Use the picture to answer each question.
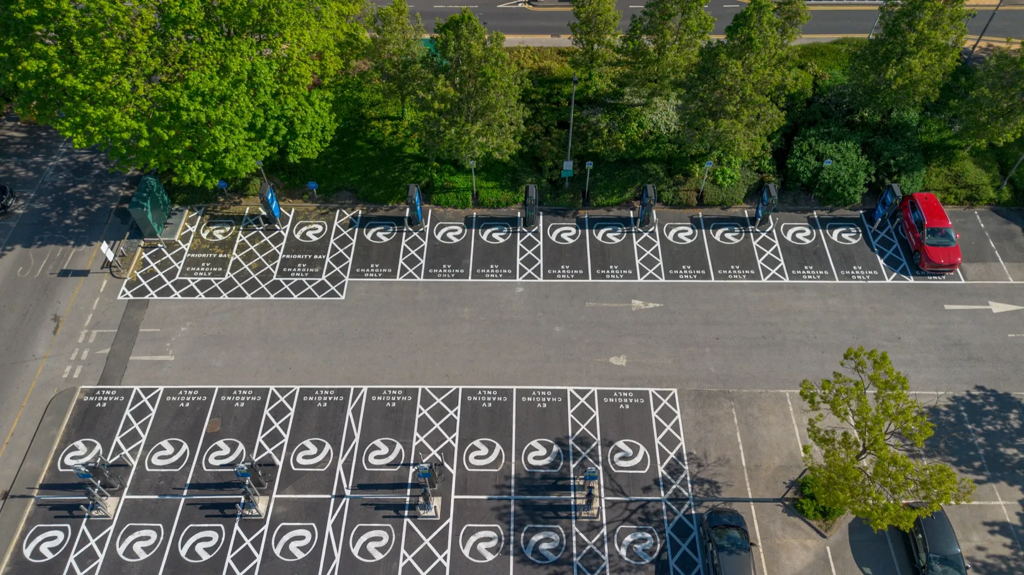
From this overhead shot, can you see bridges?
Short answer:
No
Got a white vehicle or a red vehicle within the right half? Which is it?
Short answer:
red vehicle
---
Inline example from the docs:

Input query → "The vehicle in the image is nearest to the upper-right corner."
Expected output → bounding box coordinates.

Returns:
[896,196,960,274]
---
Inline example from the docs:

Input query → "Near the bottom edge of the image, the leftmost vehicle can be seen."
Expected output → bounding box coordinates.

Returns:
[700,504,762,575]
